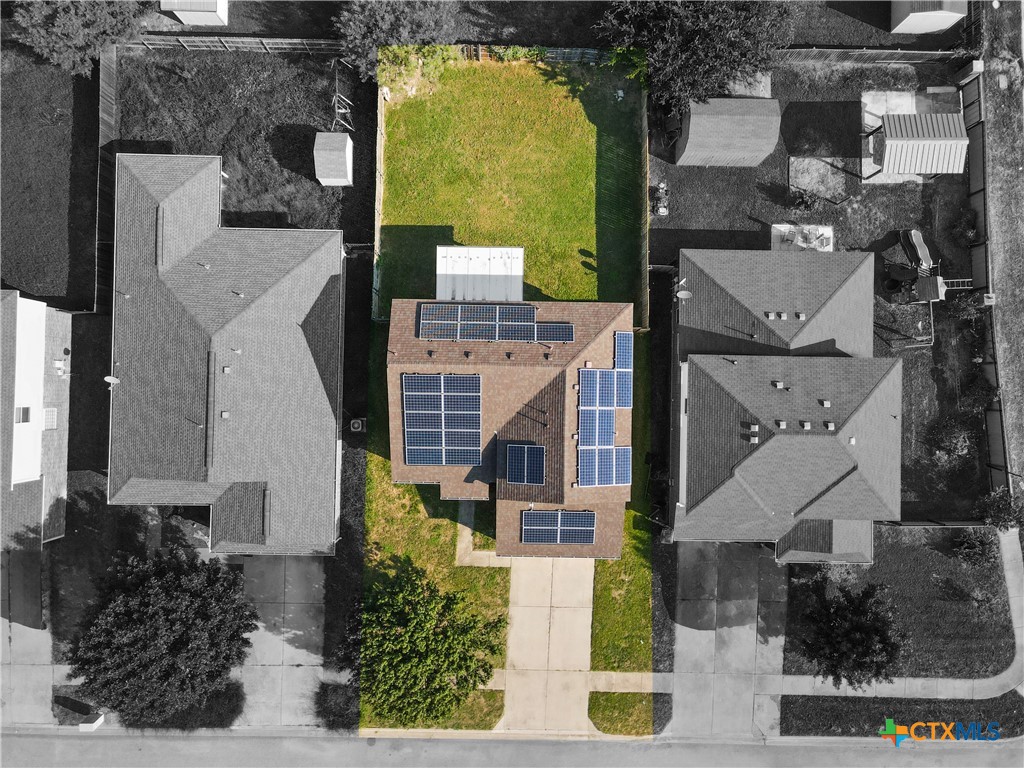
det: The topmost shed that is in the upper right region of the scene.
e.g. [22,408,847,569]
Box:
[893,0,965,31]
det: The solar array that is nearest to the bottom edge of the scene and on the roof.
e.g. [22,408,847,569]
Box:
[519,512,597,546]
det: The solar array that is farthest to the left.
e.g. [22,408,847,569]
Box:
[400,375,483,468]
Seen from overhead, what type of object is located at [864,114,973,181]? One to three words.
building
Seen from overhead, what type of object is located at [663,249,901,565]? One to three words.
house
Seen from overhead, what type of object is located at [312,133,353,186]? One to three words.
shed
